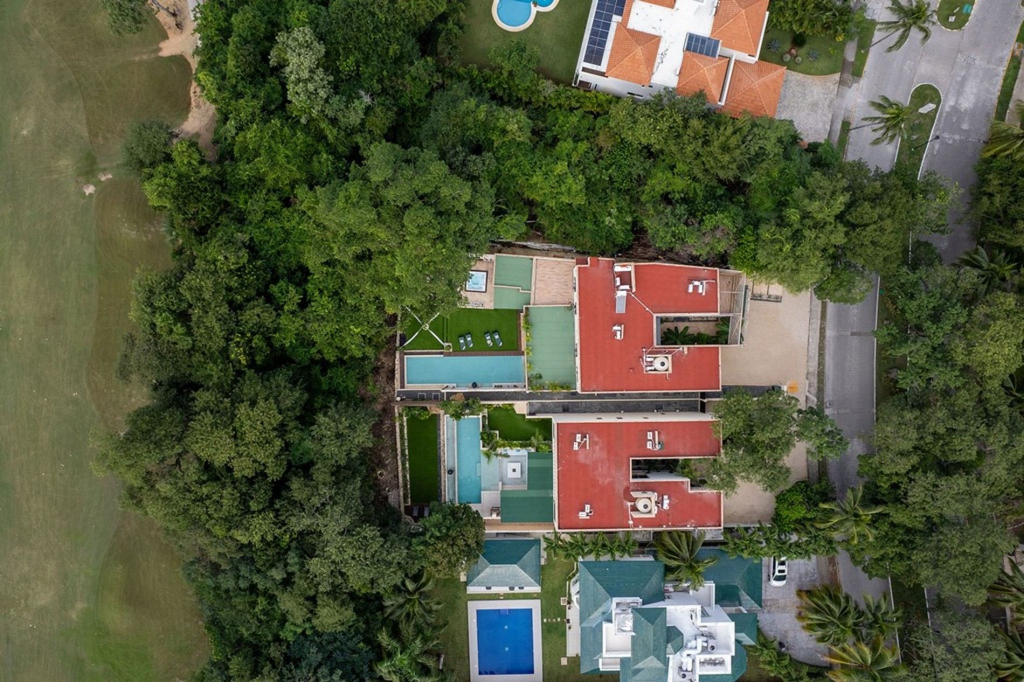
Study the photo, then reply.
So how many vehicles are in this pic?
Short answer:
one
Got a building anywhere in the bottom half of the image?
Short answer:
Yes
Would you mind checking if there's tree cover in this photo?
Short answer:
Yes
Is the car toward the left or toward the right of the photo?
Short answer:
right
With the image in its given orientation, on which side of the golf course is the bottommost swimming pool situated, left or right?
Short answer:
on its right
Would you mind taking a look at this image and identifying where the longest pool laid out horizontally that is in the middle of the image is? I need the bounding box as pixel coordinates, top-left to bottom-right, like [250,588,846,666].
[403,354,524,389]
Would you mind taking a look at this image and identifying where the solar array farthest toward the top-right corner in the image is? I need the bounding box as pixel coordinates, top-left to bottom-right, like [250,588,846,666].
[685,32,721,59]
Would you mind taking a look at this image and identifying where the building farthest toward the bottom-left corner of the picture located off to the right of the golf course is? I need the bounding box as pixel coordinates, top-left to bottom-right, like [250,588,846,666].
[467,535,541,593]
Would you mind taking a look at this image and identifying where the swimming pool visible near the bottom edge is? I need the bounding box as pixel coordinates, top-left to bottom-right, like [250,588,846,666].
[469,597,543,682]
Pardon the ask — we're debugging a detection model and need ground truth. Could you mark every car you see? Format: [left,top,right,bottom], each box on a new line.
[769,548,789,586]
